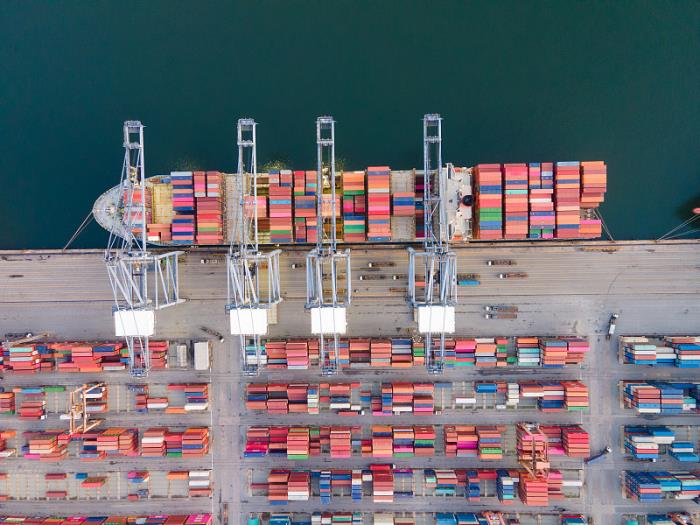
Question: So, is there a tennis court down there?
No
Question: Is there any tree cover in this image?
No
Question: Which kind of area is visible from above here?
port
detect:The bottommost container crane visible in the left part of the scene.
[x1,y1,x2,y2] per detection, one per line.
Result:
[68,381,107,433]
